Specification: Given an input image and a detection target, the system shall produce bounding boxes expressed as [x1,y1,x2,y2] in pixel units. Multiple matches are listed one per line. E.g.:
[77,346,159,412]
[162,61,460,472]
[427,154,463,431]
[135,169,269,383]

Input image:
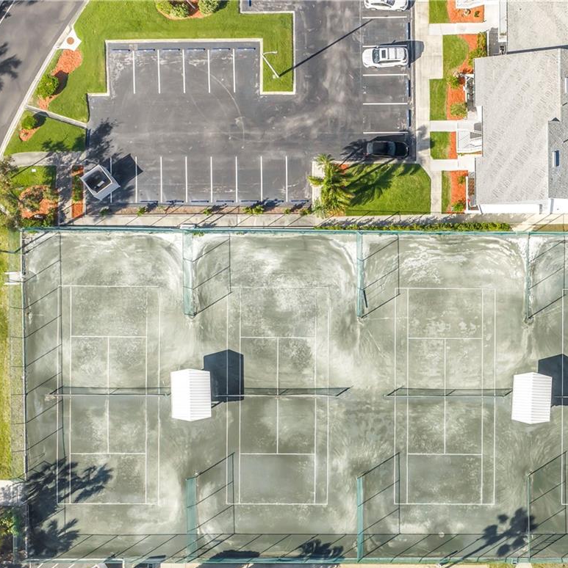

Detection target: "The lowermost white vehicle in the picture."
[363,45,409,68]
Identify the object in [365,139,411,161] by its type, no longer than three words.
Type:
car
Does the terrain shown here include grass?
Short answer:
Yes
